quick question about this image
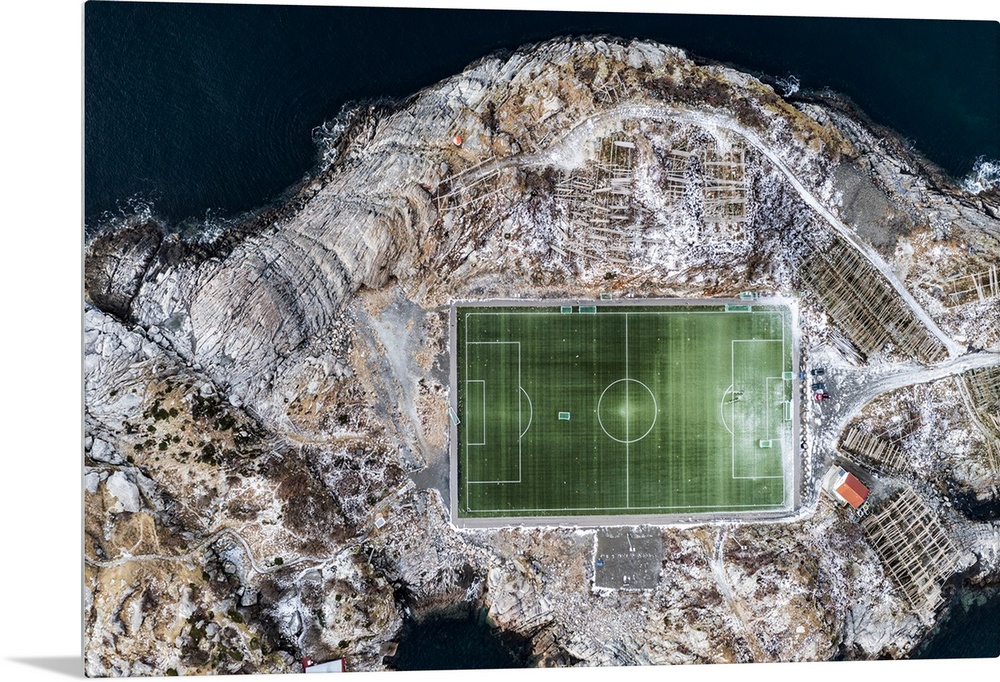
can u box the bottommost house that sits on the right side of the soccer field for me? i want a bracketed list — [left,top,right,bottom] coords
[821,463,870,508]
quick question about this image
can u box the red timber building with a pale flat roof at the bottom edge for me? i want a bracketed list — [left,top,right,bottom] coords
[301,652,357,682]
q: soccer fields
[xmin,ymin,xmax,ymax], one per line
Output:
[450,298,800,527]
